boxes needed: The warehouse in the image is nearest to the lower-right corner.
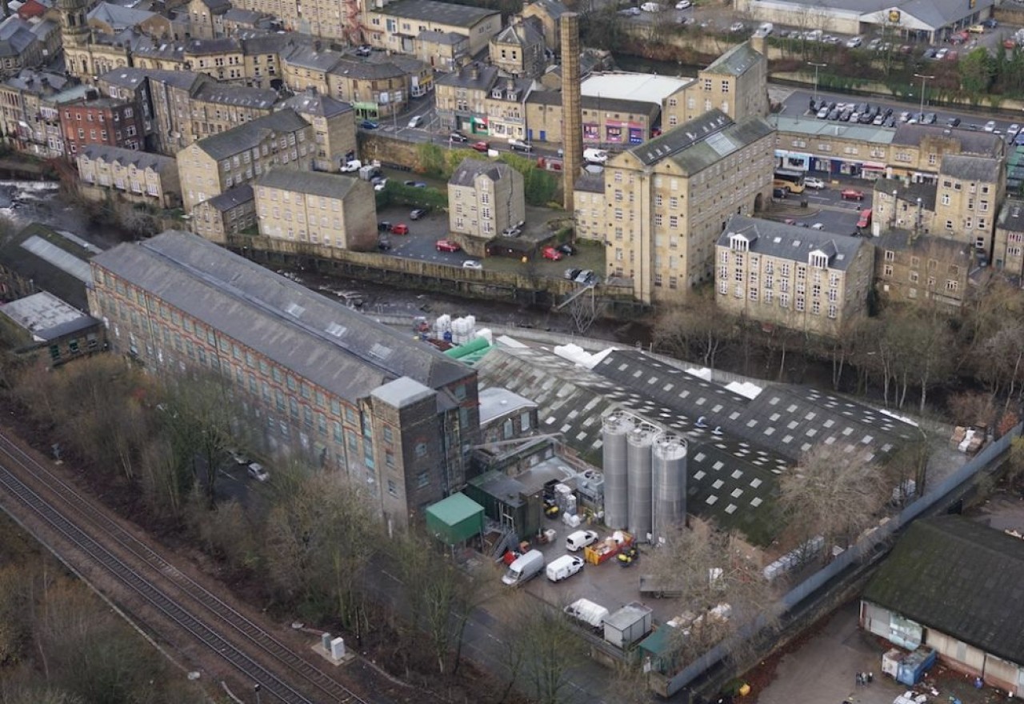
[857,504,1024,700]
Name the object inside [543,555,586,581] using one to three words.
vehicle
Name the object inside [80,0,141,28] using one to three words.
house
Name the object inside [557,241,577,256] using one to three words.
car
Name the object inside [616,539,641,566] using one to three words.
work vehicle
